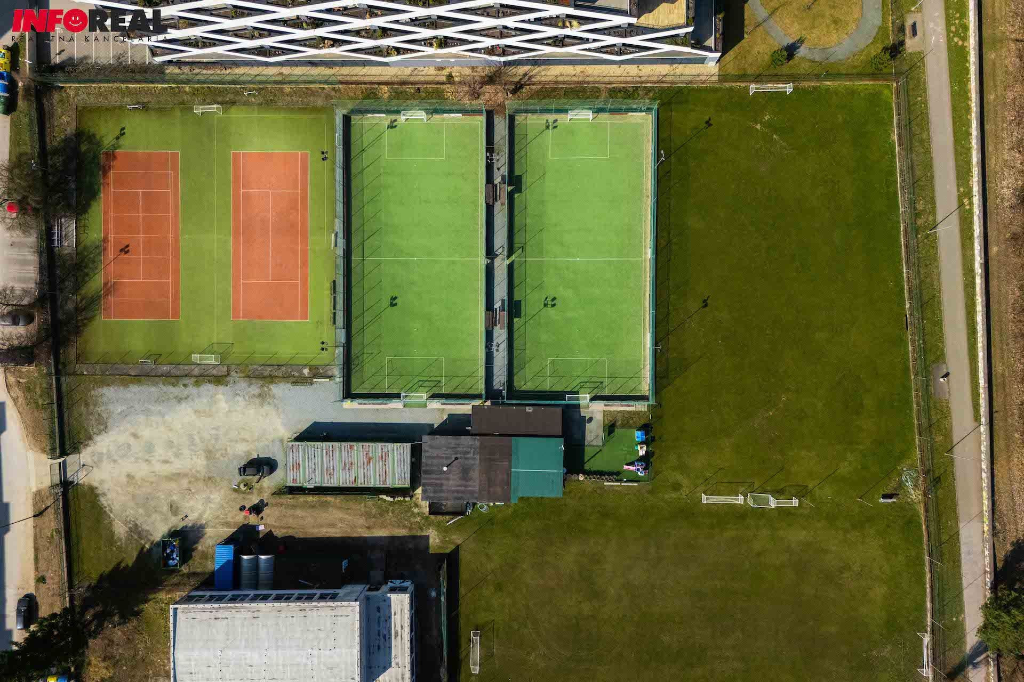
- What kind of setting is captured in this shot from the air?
sports ground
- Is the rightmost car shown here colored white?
No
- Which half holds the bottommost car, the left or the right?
left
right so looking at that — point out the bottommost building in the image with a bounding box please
[171,574,416,682]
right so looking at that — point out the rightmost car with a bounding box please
[239,464,271,485]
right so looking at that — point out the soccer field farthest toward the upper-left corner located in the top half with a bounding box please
[345,113,482,399]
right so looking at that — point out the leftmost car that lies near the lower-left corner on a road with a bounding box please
[9,597,30,631]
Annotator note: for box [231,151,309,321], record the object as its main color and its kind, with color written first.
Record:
orange tennis court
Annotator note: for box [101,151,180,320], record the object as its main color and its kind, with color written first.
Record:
orange tennis court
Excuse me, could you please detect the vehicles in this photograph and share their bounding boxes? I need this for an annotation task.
[239,464,271,485]
[0,309,31,325]
[9,597,30,631]
[5,200,32,215]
